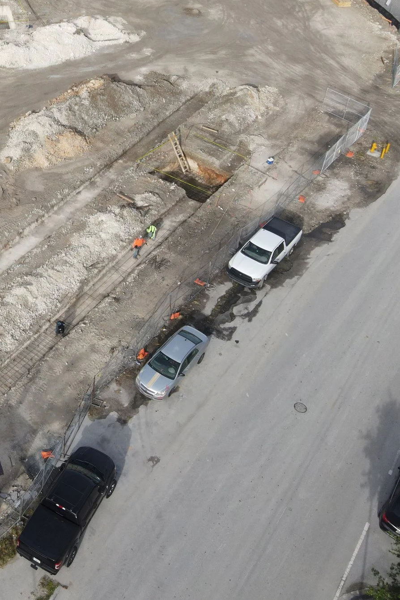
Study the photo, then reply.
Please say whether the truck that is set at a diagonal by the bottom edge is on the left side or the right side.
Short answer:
left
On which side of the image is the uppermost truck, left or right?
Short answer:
right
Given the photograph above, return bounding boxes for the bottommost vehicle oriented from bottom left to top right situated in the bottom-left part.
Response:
[22,445,127,576]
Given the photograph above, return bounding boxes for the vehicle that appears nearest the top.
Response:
[232,216,304,287]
